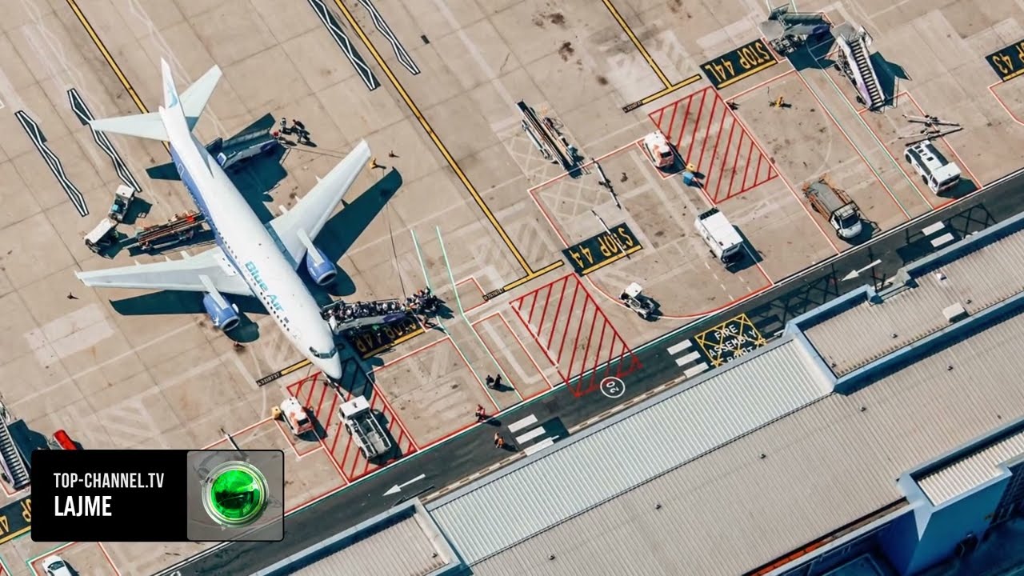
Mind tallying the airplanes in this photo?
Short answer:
1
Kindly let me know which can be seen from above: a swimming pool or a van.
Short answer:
van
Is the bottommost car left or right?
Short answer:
left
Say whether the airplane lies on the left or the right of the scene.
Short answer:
left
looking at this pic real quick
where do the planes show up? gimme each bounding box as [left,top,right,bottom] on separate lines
[73,58,369,380]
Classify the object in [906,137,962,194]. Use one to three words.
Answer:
vehicle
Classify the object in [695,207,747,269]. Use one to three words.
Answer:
van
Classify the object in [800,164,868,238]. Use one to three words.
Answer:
truck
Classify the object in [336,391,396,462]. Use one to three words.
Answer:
work vehicle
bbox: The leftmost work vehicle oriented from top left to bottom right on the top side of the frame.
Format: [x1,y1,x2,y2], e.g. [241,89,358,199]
[517,106,580,170]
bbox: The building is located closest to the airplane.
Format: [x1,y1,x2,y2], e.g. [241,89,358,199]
[254,212,1024,576]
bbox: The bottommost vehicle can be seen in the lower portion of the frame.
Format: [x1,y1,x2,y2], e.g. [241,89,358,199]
[43,552,77,576]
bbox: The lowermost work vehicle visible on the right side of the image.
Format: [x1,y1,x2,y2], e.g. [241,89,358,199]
[616,279,648,323]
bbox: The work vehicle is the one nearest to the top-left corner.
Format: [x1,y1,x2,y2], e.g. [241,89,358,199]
[102,185,133,227]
